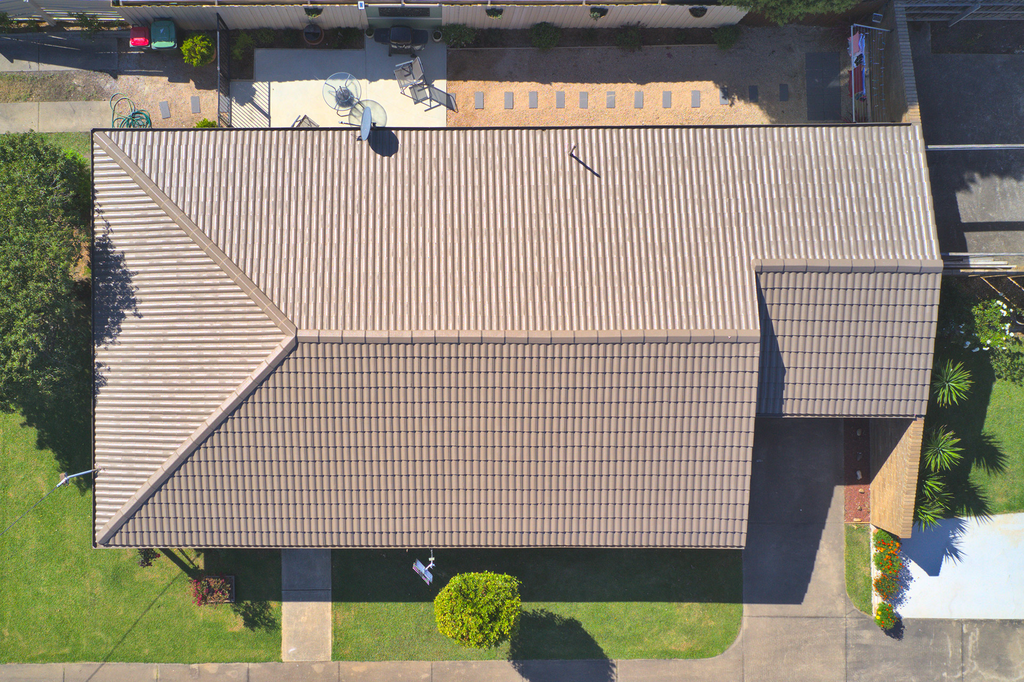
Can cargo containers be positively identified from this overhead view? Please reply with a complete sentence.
No, the picture doesn't show any cargo container.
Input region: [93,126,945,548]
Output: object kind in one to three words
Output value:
house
